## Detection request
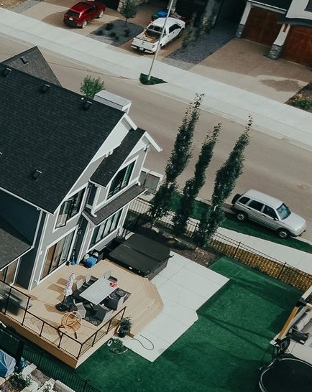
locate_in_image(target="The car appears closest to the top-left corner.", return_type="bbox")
[64,0,108,25]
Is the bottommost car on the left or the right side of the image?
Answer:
right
